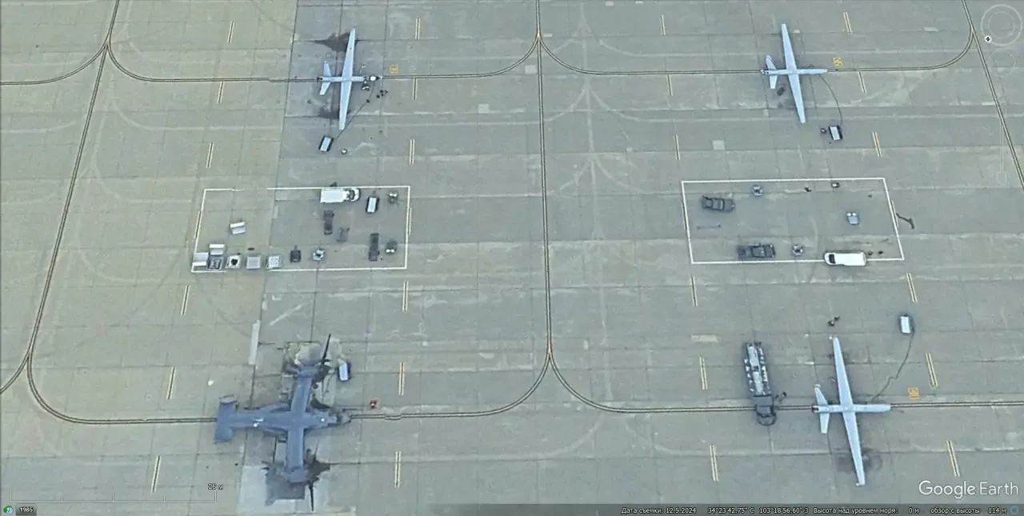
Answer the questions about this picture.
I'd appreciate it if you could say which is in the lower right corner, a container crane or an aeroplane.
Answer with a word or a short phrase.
aeroplane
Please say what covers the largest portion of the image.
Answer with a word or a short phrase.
paved ground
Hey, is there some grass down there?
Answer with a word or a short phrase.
No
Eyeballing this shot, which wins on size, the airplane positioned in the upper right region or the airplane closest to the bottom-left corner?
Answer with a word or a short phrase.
the airplane closest to the bottom-left corner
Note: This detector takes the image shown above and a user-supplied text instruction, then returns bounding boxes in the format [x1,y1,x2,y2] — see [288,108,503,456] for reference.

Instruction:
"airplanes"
[210,323,358,510]
[761,23,826,123]
[315,28,382,129]
[808,335,889,487]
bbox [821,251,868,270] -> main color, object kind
white vehicle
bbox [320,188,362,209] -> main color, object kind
white truck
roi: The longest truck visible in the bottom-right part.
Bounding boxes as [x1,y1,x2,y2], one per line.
[744,343,778,429]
